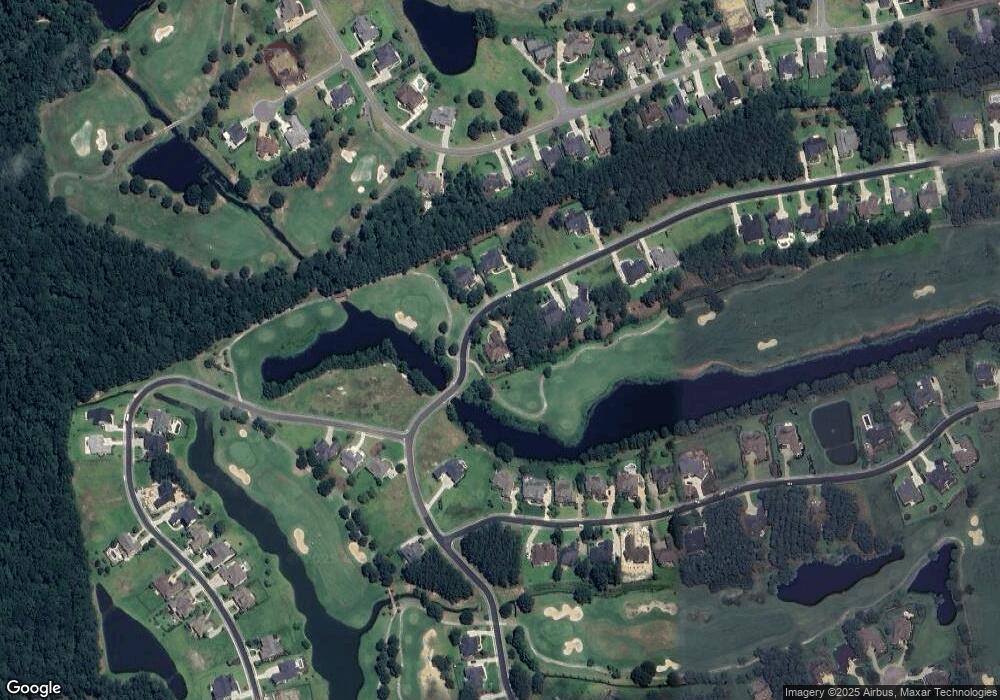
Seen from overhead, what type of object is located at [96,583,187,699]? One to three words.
pond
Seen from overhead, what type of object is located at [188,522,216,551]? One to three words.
house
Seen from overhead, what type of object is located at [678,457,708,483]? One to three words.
house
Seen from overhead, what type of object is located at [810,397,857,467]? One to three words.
pond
